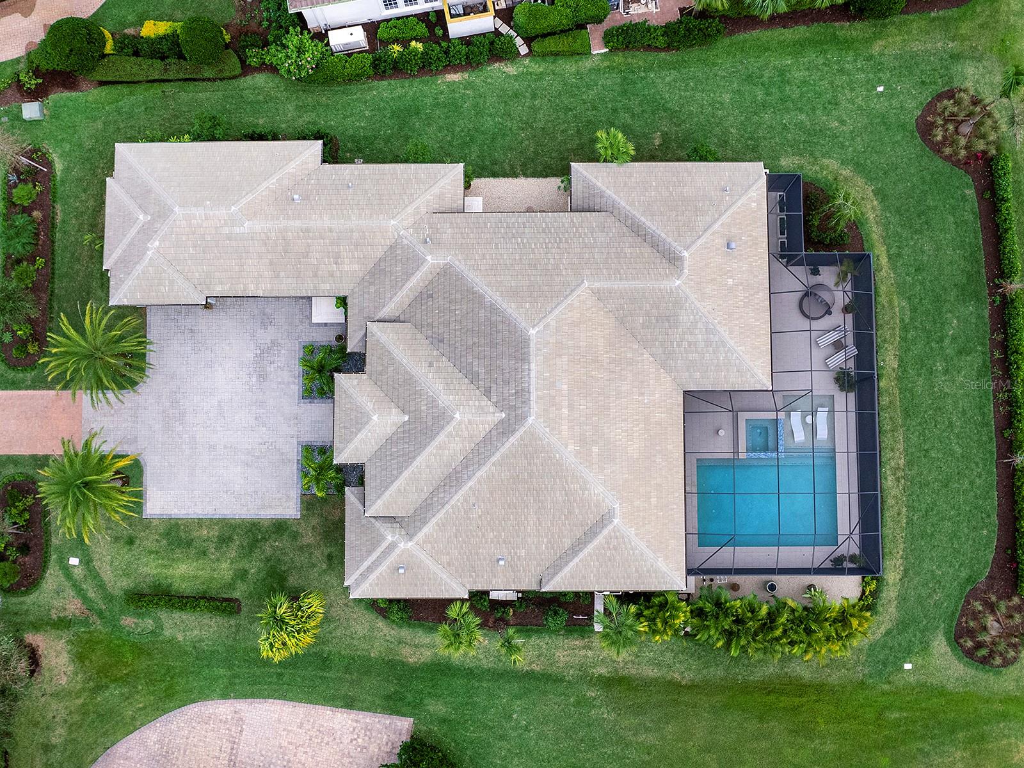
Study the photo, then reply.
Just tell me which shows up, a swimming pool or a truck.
swimming pool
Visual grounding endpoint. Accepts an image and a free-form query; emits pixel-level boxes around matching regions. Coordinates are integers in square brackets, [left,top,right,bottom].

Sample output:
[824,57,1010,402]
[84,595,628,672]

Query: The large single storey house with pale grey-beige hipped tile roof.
[101,136,775,603]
